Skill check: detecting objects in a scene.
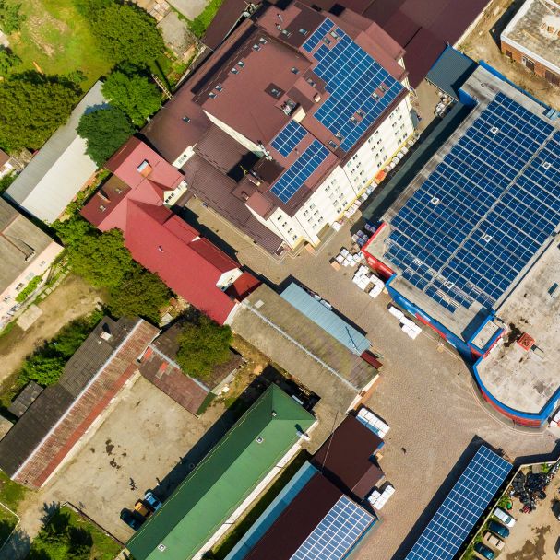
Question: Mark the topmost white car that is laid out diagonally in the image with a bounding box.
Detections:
[492,506,517,529]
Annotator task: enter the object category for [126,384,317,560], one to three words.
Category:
building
